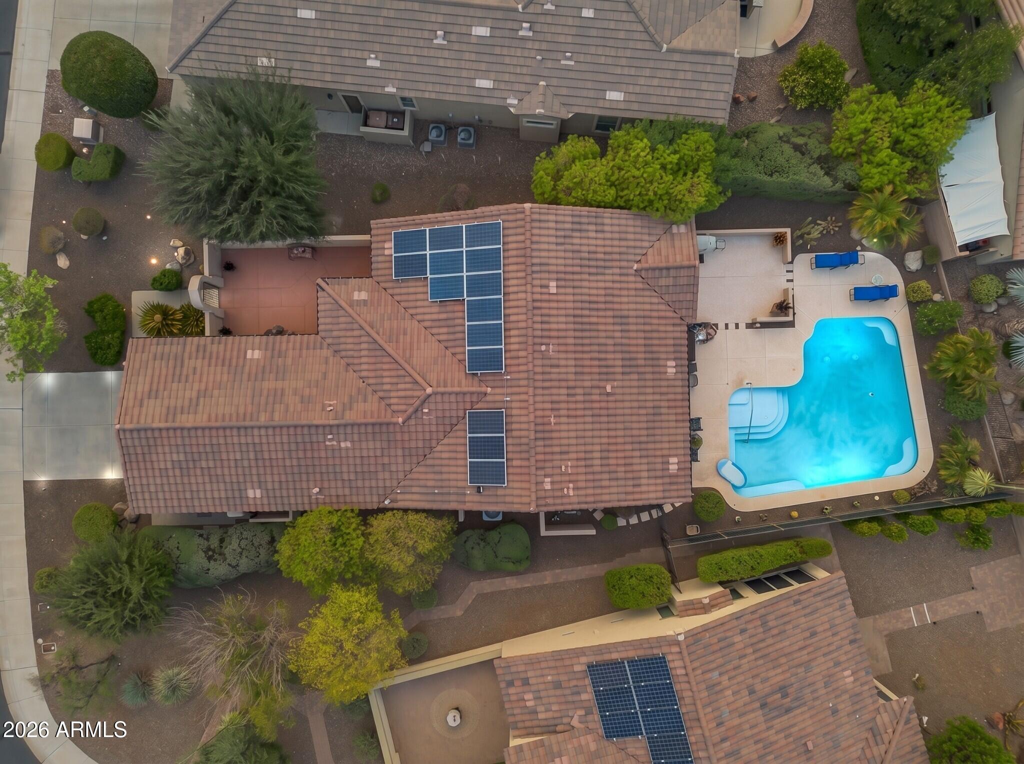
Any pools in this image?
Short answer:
Yes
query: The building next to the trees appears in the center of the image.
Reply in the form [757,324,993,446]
[114,201,701,517]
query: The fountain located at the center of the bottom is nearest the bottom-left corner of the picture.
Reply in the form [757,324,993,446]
[445,707,462,725]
